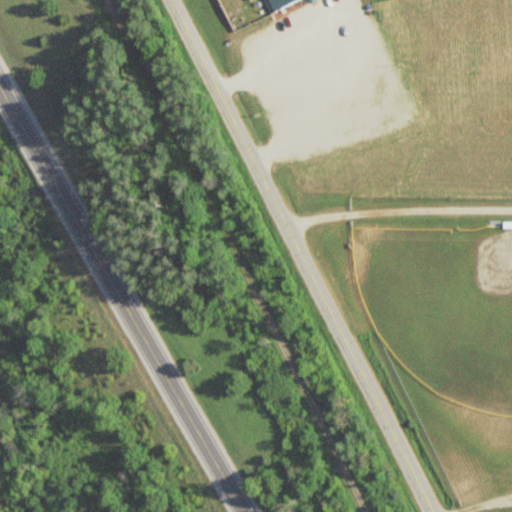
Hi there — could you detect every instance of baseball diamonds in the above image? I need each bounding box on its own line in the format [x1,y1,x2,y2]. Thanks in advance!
[353,230,512,412]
